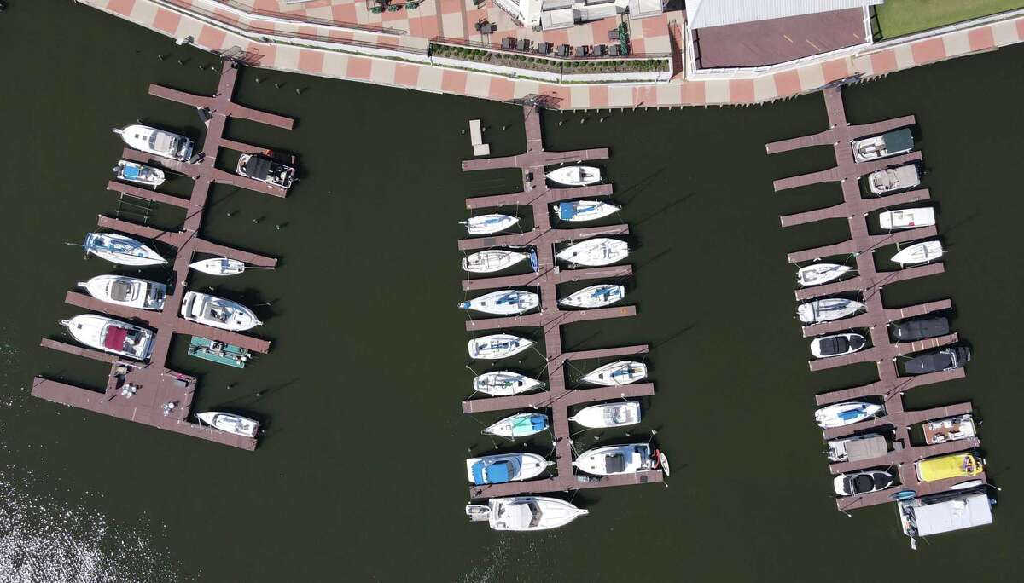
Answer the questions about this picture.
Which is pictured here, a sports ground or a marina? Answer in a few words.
marina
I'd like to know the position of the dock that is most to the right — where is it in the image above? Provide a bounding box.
[764,86,987,512]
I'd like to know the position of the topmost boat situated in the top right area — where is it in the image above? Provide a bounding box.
[851,127,915,163]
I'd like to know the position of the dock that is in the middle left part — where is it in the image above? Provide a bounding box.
[32,63,297,451]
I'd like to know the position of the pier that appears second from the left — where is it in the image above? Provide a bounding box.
[458,107,663,498]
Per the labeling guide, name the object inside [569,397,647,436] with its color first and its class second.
white boat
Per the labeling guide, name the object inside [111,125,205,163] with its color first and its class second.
white boat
